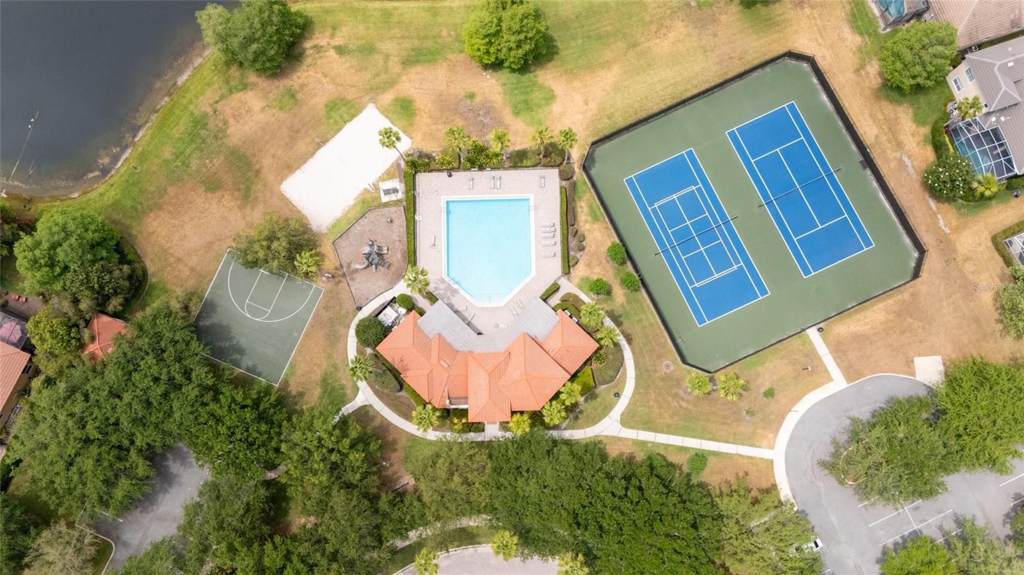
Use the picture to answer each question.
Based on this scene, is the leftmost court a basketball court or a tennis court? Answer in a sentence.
The leftmost court in the image is a basketball court.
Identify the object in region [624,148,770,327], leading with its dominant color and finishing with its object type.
blue tennis court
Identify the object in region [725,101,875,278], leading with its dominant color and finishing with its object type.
blue tennis court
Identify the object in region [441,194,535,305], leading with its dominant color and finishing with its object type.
white swimming pool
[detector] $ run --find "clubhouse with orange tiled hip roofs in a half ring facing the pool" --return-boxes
[376,310,598,424]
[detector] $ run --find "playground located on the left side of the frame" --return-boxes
[331,205,408,307]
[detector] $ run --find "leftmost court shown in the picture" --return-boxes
[190,250,324,387]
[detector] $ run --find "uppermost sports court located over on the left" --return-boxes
[281,104,411,231]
